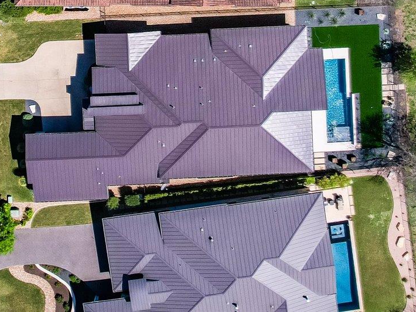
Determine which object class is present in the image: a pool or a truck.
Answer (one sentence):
Visible in the photo is a pool.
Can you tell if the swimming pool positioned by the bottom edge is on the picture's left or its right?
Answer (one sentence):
The swimming pool positioned by the bottom edge appears in the right half of the scene.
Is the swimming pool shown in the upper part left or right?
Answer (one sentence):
It is on the right.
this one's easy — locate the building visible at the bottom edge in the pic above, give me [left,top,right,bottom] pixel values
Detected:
[83,188,338,312]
